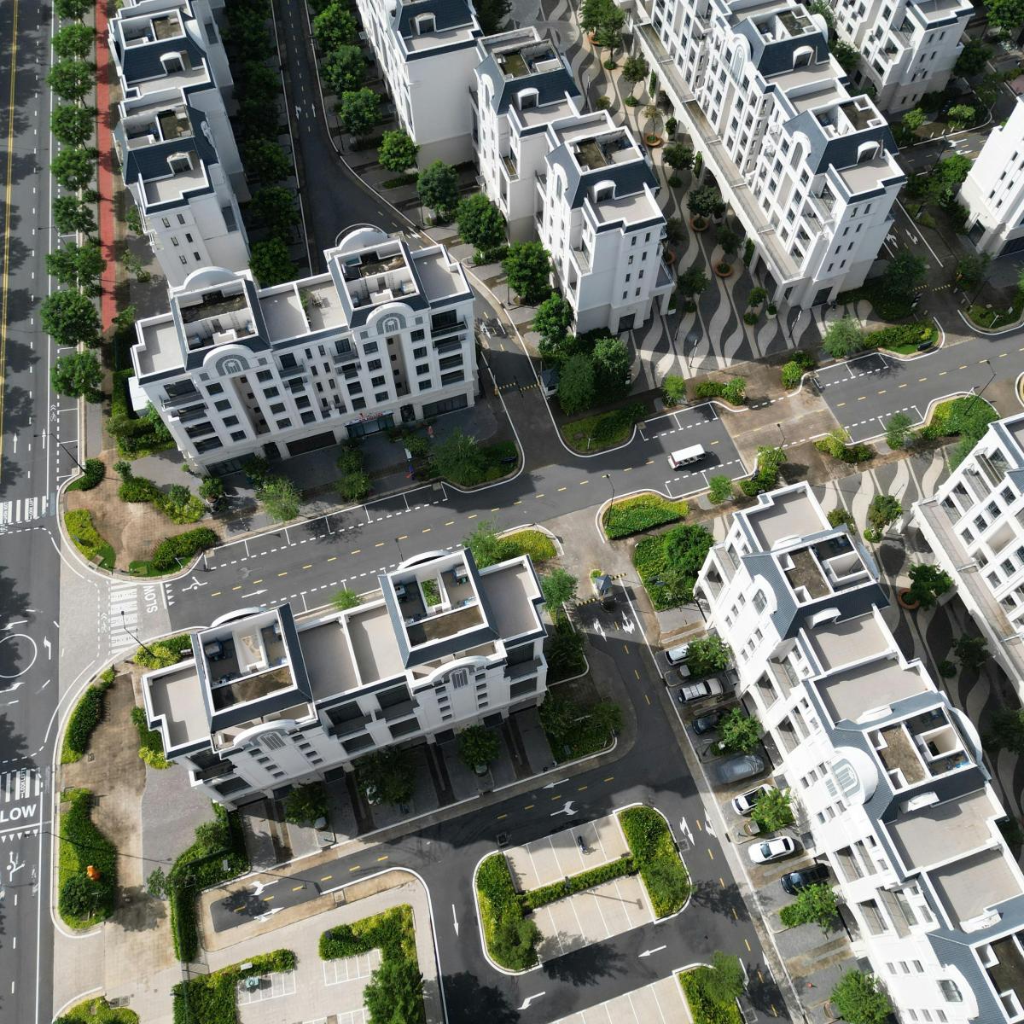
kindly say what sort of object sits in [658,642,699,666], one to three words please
car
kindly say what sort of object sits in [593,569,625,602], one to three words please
shed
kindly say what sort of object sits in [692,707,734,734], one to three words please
car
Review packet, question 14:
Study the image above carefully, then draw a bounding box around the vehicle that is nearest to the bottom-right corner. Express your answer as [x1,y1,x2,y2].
[778,863,829,895]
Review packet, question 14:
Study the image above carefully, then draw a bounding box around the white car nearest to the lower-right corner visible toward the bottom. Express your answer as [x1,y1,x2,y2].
[746,835,799,863]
